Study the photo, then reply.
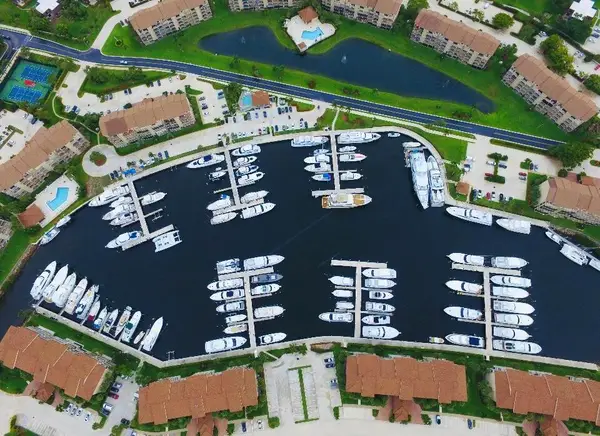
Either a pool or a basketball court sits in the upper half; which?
pool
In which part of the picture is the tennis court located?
top left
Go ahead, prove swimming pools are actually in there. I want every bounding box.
[238,91,255,110]
[36,177,79,229]
[287,14,335,52]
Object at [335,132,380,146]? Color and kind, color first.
white boat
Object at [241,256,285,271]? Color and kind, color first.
white boat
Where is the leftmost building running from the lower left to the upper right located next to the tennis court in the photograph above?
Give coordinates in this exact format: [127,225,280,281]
[0,117,86,196]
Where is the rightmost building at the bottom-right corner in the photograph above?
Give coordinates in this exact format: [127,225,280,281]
[486,365,600,436]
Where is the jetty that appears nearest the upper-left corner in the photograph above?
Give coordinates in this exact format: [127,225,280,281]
[120,180,175,251]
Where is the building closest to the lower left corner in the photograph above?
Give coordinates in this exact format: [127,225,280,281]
[0,324,115,403]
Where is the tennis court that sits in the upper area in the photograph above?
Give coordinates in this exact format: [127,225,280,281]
[0,56,58,104]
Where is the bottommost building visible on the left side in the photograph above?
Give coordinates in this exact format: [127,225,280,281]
[137,366,259,436]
